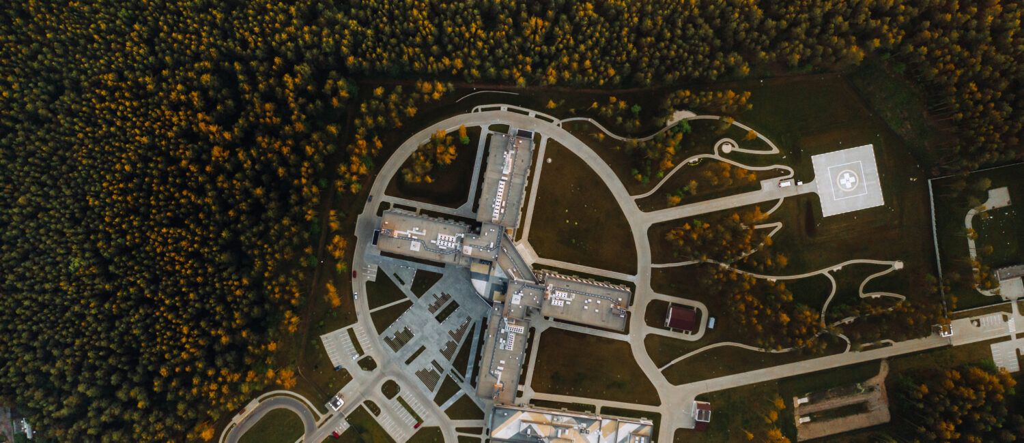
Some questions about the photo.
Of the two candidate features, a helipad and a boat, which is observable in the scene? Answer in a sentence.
Visible in the photo is a helipad.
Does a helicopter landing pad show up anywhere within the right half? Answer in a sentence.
Yes, the scene does show a helicopter landing pad within the right half.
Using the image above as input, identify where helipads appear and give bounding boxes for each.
[813,144,883,216]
